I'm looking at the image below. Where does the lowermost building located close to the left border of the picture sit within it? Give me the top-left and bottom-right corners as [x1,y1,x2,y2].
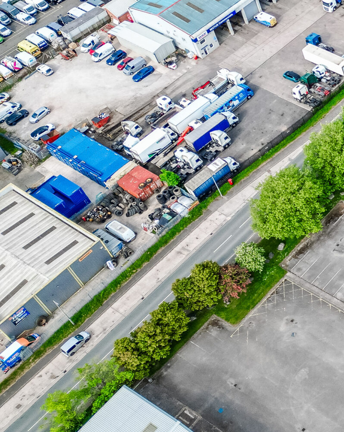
[0,181,112,343]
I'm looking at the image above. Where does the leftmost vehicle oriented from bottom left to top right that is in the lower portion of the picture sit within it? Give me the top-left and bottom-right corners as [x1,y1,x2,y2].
[0,337,49,379]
